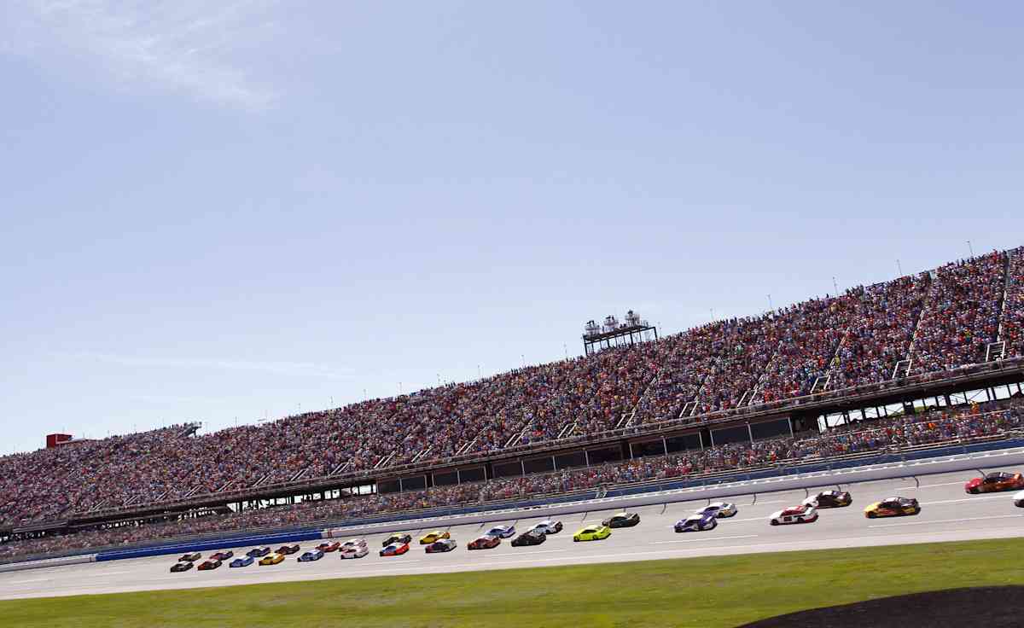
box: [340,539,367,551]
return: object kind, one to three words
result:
vehicle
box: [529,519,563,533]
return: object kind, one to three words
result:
car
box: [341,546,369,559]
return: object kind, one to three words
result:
vehicle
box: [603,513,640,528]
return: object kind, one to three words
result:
car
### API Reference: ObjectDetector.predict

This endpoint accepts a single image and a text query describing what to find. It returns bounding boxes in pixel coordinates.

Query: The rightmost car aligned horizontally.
[968,472,1024,493]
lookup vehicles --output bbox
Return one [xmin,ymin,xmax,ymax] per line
[315,540,341,552]
[603,513,640,528]
[468,535,501,550]
[230,556,253,567]
[341,546,369,559]
[259,553,284,565]
[210,551,233,561]
[512,532,546,547]
[968,472,1024,493]
[275,543,300,554]
[298,549,324,561]
[696,501,737,517]
[574,525,611,541]
[421,530,450,544]
[675,515,717,532]
[383,533,411,546]
[340,539,367,551]
[804,489,851,508]
[381,543,409,556]
[171,562,193,572]
[529,519,563,533]
[199,560,221,570]
[179,552,200,562]
[484,525,517,537]
[770,505,817,525]
[425,539,456,553]
[247,546,270,557]
[866,498,919,518]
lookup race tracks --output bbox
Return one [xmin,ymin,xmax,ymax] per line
[0,464,1024,598]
